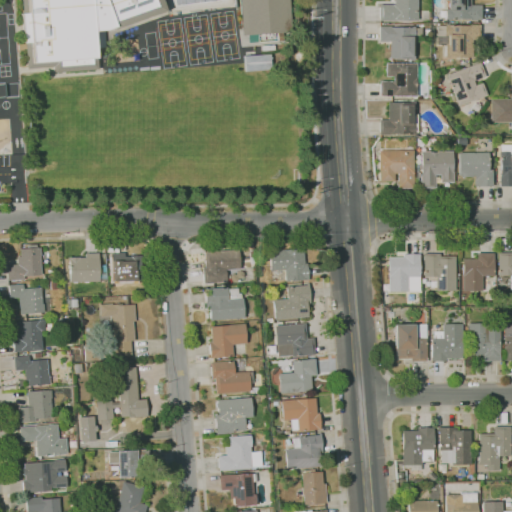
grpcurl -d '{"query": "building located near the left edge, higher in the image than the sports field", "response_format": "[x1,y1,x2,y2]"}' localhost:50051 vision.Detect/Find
[24,0,120,66]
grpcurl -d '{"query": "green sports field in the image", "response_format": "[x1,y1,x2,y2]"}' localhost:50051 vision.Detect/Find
[20,70,300,196]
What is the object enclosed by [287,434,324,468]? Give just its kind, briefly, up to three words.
house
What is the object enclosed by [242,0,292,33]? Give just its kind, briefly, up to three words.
building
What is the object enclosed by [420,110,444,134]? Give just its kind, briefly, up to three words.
swimming pool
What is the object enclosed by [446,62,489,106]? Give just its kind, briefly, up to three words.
house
